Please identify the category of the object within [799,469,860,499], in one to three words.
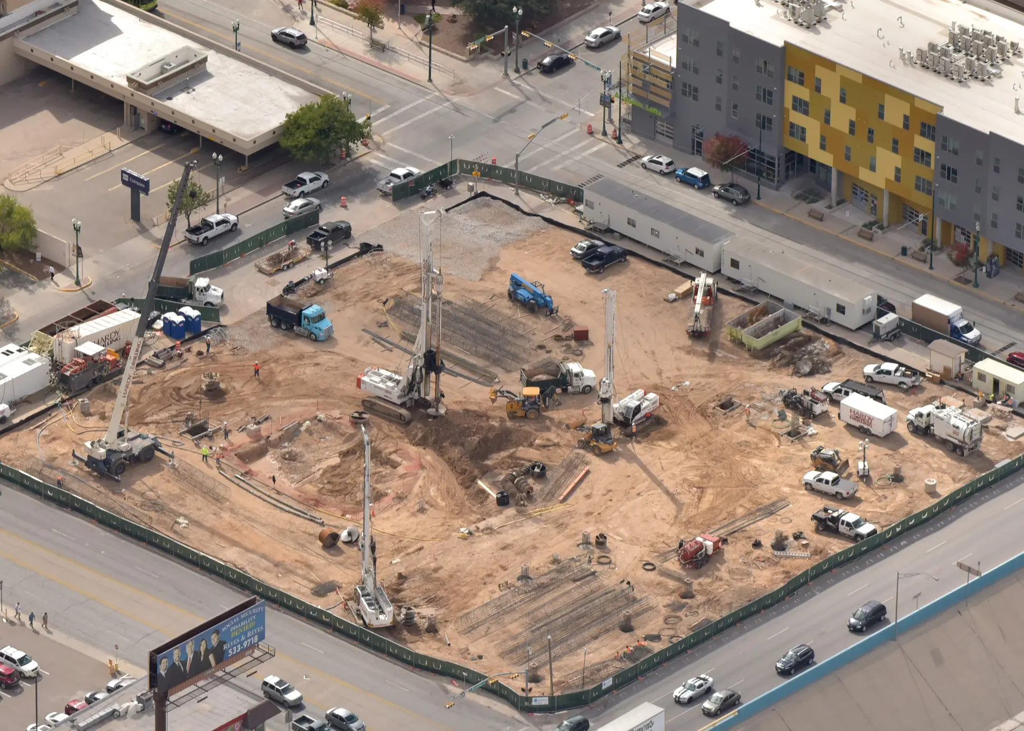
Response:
truck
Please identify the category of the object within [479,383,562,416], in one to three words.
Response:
work vehicle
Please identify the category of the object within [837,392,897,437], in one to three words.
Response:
trailer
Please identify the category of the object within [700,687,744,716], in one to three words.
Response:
car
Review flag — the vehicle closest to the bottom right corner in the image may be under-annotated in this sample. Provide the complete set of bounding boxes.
[847,599,889,632]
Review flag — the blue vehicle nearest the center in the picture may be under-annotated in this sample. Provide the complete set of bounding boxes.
[505,269,562,320]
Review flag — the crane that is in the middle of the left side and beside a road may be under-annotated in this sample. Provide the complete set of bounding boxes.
[72,156,202,484]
